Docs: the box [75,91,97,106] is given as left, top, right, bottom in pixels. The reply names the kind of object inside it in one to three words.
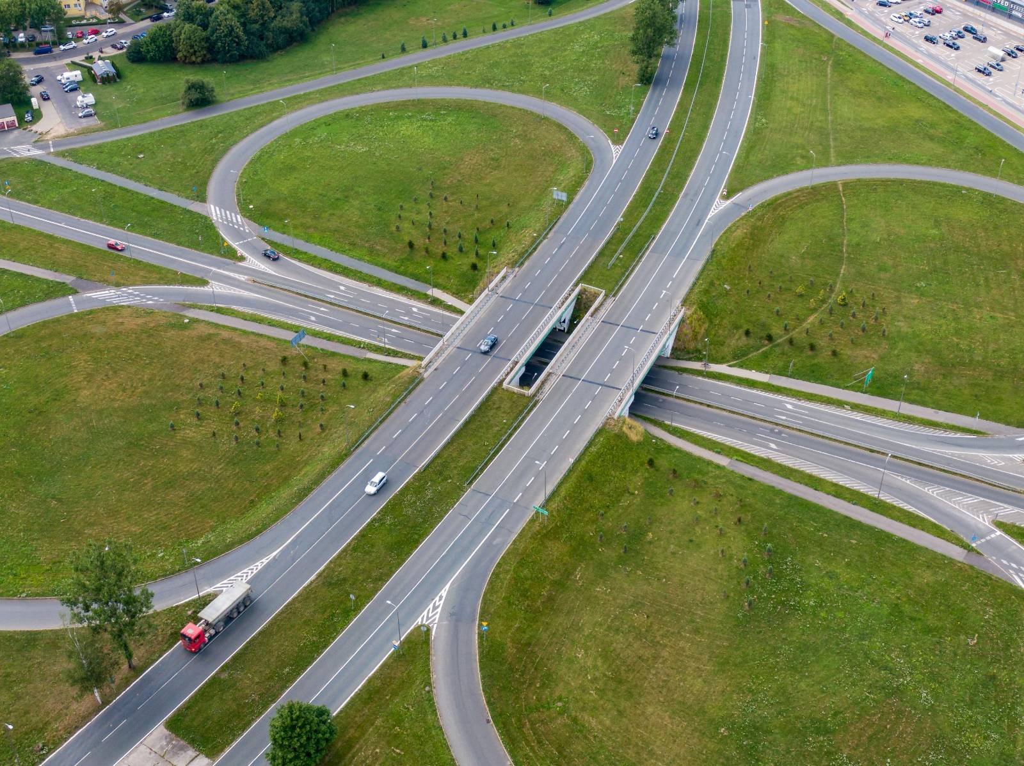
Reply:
camper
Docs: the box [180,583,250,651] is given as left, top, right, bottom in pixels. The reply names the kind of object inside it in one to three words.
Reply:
truck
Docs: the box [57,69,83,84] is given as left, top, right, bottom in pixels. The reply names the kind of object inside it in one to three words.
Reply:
camper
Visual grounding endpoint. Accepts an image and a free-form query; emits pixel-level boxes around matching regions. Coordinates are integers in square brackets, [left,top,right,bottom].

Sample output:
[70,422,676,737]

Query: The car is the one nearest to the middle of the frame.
[479,337,498,353]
